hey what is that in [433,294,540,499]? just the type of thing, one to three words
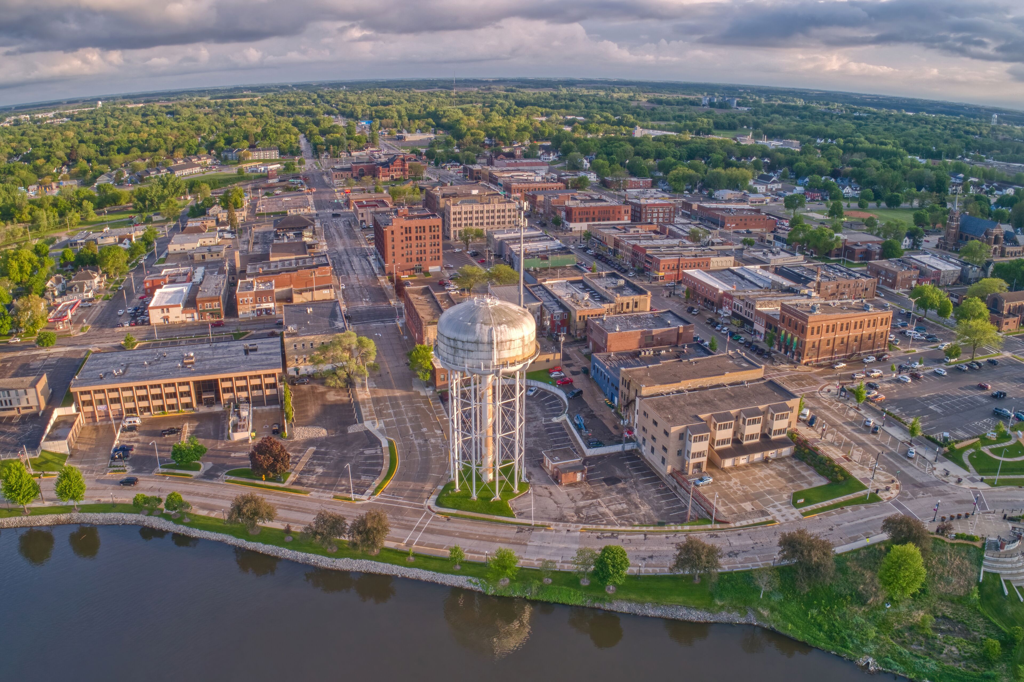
water tower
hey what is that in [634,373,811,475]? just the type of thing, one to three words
building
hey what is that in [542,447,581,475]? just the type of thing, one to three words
building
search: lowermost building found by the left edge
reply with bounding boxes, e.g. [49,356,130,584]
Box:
[42,413,81,452]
